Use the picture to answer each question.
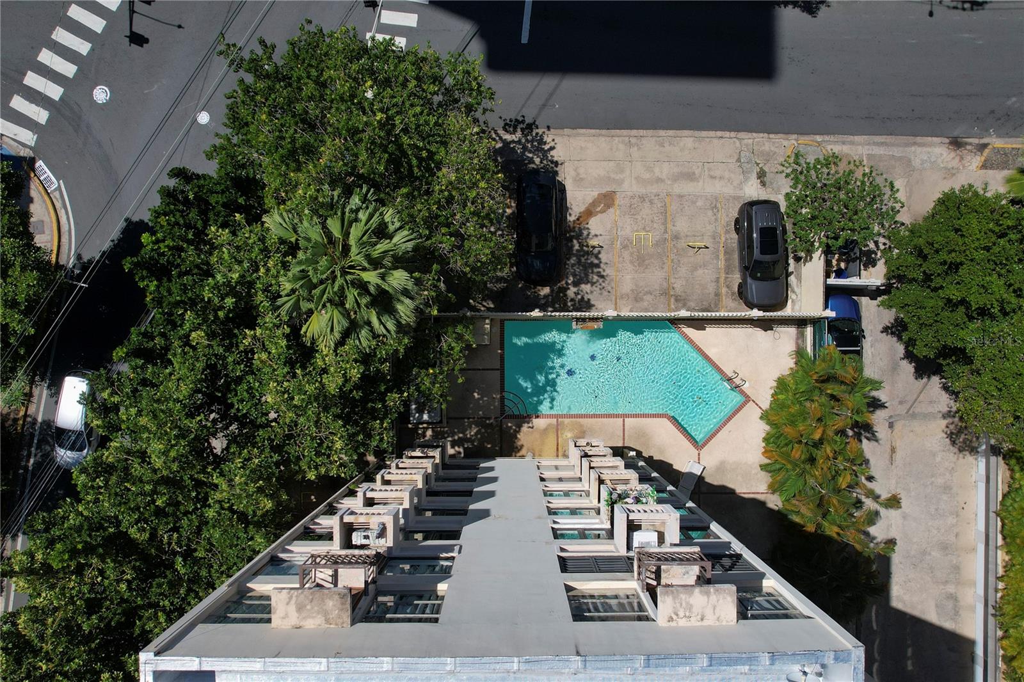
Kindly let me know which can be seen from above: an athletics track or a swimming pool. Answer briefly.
swimming pool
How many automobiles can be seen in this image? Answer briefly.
4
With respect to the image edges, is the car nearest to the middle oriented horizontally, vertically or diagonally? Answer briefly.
vertically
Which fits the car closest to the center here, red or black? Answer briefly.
black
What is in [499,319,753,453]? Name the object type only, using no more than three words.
swimming pool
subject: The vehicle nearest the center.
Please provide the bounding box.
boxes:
[516,173,567,283]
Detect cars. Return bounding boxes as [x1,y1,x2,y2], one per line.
[47,371,106,468]
[733,200,792,311]
[822,295,872,368]
[516,173,567,283]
